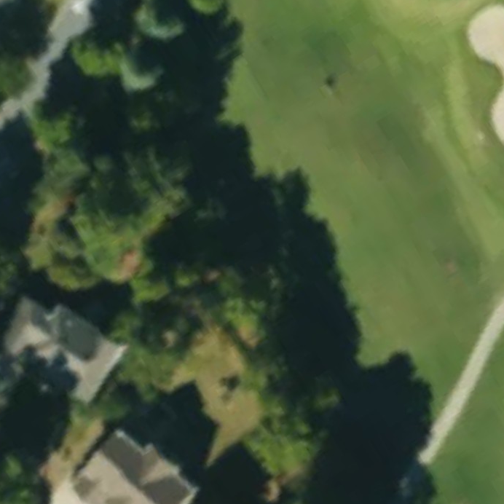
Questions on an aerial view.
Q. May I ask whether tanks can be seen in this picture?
No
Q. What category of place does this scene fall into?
golf course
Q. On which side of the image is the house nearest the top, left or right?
left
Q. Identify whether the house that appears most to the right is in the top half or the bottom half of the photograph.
bottom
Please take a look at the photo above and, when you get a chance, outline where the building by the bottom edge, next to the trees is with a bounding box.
[73,427,193,504]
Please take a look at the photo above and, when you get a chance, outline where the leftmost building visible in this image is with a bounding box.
[1,297,125,403]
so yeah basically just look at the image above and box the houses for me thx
[73,427,193,504]
[1,297,125,403]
